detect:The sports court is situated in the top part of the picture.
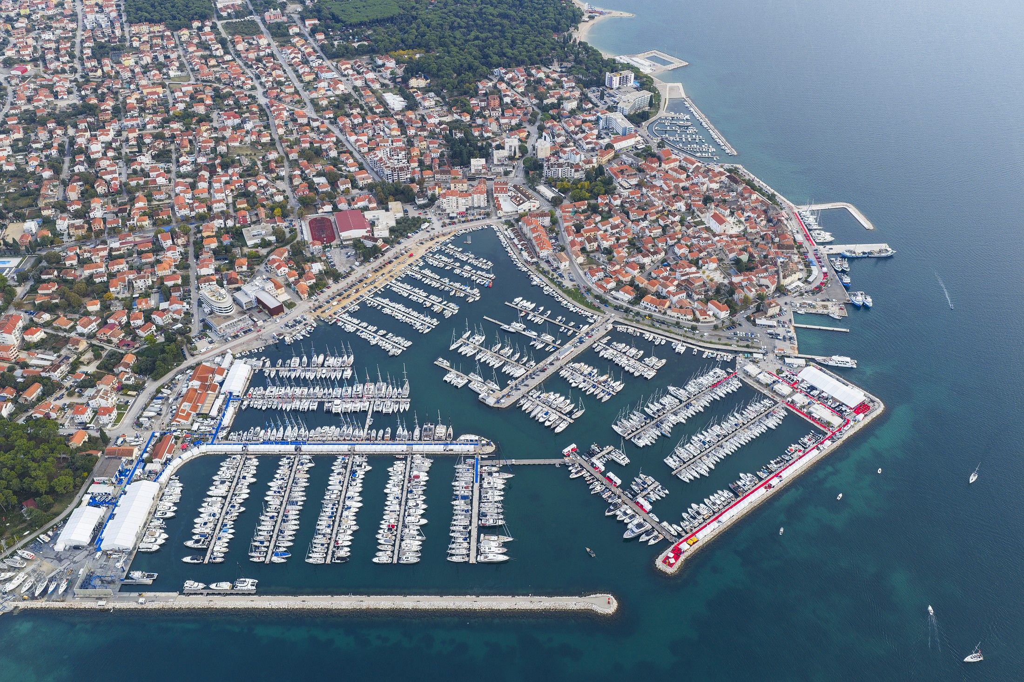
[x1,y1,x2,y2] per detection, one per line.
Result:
[309,216,335,243]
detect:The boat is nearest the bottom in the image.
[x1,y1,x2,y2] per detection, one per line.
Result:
[964,637,988,662]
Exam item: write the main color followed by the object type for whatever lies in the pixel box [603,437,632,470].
white boat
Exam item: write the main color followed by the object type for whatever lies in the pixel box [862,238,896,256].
white boat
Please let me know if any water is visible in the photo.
Yes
